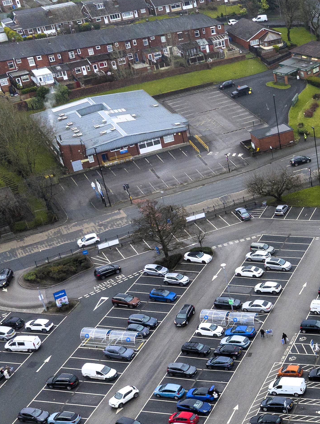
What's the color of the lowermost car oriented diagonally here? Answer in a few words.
white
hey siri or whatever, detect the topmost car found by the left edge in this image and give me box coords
[0,268,15,287]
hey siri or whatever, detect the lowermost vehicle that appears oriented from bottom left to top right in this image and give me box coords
[107,385,140,410]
